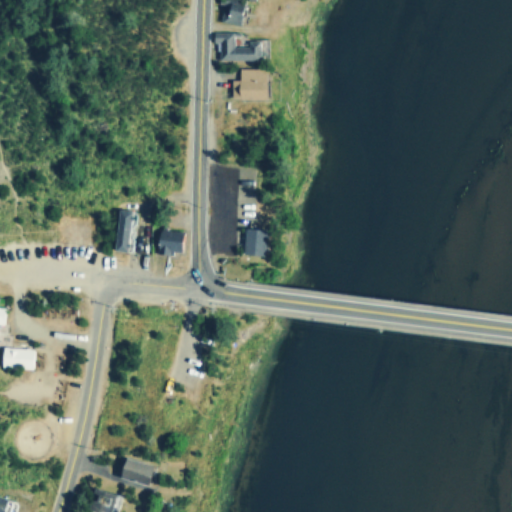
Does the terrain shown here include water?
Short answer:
Yes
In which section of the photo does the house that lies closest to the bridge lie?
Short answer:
center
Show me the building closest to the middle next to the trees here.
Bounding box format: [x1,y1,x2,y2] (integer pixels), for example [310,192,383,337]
[246,229,268,257]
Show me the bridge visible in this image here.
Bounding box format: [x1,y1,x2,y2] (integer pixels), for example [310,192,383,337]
[277,286,512,345]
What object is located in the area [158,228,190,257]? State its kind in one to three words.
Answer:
house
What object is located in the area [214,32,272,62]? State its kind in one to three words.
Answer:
house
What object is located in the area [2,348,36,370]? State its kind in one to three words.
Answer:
building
